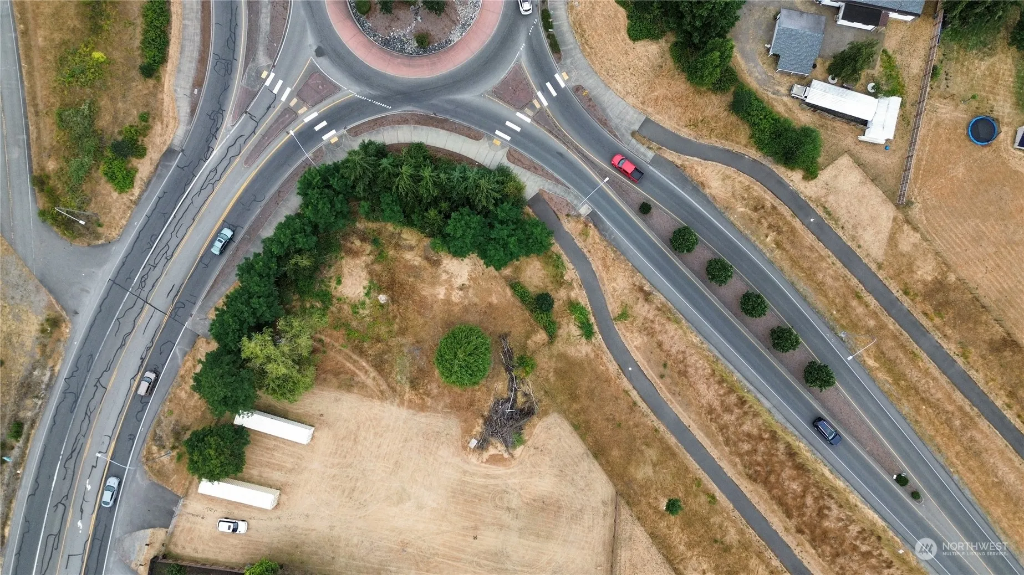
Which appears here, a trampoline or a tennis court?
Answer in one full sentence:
The one in the frame is a trampoline.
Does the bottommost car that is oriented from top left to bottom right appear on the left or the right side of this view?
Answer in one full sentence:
You can find the bottommost car that is oriented from top left to bottom right on the right side of the picture.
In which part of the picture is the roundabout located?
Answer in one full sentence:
The roundabout is located in the top region of the scene.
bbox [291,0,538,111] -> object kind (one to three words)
roundabout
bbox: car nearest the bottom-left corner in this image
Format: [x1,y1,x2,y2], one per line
[102,475,122,508]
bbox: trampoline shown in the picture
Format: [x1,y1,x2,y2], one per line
[967,113,1004,147]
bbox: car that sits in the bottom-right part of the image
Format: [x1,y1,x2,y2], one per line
[812,415,841,446]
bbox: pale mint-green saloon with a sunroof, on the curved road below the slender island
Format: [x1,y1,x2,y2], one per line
[211,228,234,255]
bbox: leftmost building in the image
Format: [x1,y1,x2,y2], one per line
[768,8,825,82]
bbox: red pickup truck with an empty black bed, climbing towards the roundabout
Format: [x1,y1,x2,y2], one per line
[612,154,644,182]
